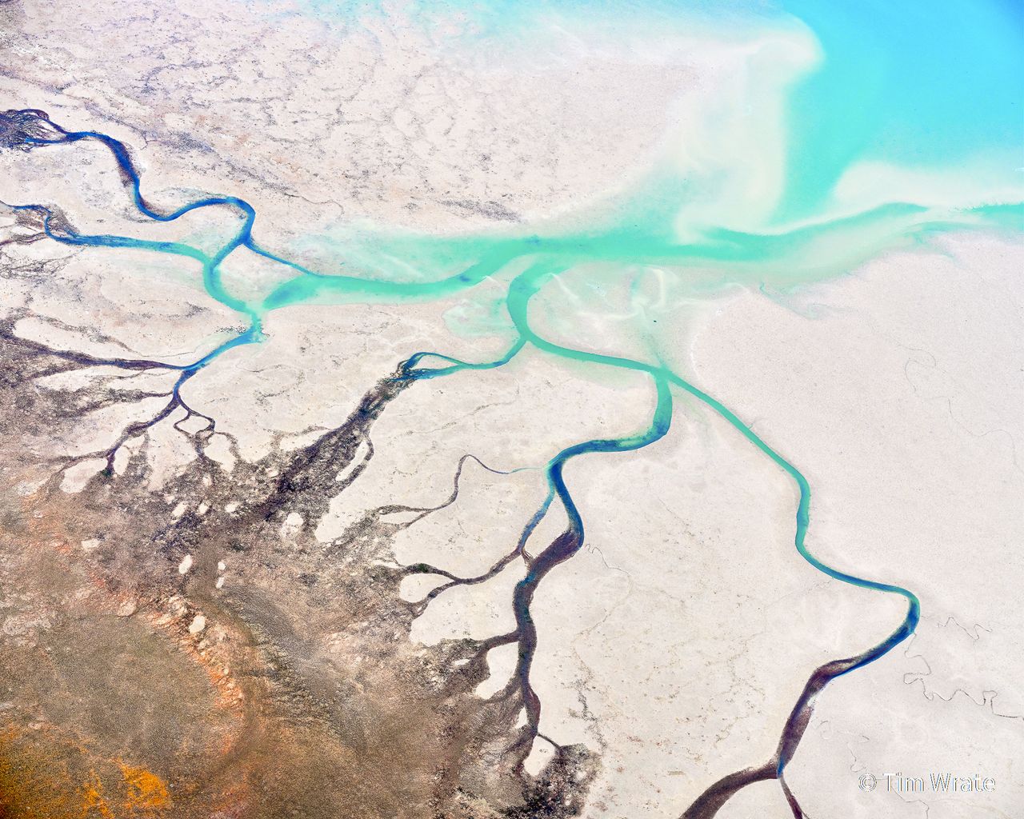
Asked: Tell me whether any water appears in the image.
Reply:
Yes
